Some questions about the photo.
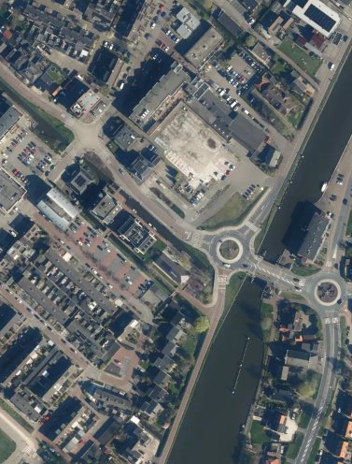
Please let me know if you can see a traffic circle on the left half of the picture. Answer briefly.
No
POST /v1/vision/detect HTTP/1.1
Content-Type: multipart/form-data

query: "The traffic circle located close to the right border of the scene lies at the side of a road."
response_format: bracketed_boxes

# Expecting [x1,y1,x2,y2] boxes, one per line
[310,275,343,307]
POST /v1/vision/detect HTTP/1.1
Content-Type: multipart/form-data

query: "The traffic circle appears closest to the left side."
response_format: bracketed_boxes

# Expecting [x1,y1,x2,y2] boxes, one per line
[210,233,247,269]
